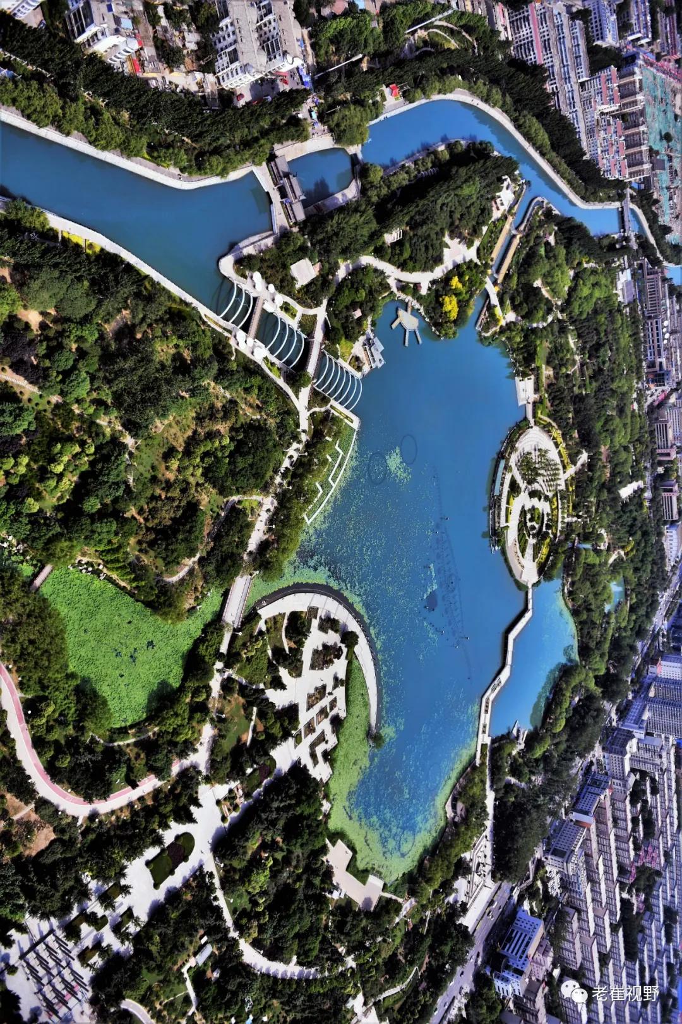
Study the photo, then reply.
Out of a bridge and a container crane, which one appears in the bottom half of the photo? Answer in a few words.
bridge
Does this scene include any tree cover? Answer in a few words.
Yes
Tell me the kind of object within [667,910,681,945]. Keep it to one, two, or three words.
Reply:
building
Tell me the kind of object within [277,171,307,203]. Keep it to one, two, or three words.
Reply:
house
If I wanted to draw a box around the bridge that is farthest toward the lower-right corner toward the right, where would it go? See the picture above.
[477,585,535,763]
